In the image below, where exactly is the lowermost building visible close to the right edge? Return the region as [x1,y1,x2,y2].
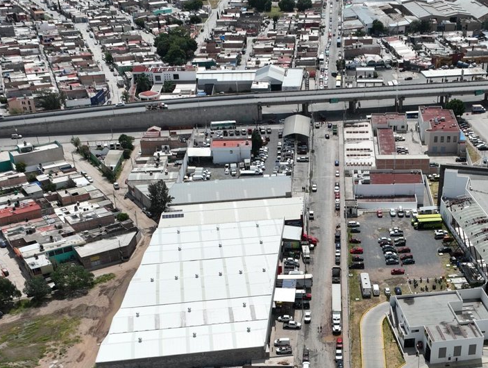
[424,323,484,365]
